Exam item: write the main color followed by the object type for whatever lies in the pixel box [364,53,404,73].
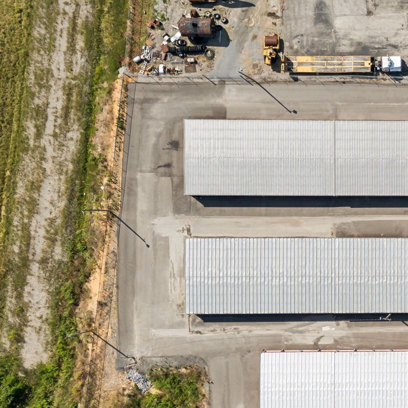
white vehicle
